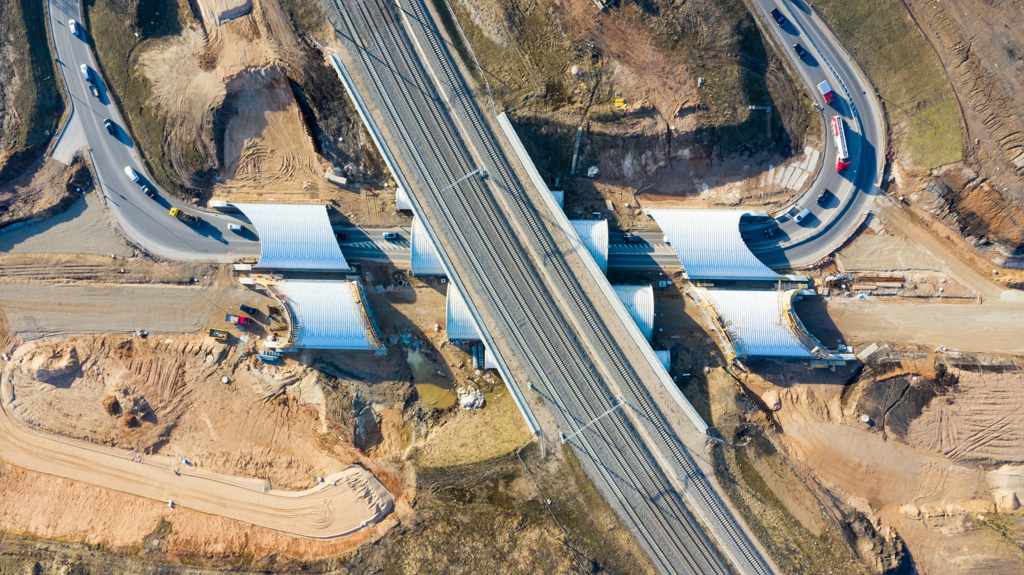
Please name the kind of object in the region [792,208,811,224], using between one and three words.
vehicle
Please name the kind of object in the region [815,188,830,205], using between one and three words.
car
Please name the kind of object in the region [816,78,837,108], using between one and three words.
truck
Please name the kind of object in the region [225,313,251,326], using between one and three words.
vehicle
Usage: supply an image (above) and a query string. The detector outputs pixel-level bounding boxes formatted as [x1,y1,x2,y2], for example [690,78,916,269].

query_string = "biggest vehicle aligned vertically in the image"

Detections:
[829,115,849,171]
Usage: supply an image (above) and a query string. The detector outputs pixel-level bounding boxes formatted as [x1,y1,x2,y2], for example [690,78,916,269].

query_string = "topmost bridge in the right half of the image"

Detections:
[646,208,791,281]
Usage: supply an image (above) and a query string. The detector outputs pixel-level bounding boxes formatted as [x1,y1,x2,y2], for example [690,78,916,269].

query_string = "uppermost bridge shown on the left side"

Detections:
[228,201,355,274]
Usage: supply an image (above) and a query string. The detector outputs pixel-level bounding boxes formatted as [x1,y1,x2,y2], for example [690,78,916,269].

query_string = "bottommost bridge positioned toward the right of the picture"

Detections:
[706,289,818,359]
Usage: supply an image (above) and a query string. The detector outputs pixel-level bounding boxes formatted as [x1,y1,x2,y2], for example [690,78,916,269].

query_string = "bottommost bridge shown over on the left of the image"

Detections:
[276,278,381,352]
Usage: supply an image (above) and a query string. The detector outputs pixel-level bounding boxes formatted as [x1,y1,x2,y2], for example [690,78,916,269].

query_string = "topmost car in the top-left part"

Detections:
[68,20,80,36]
